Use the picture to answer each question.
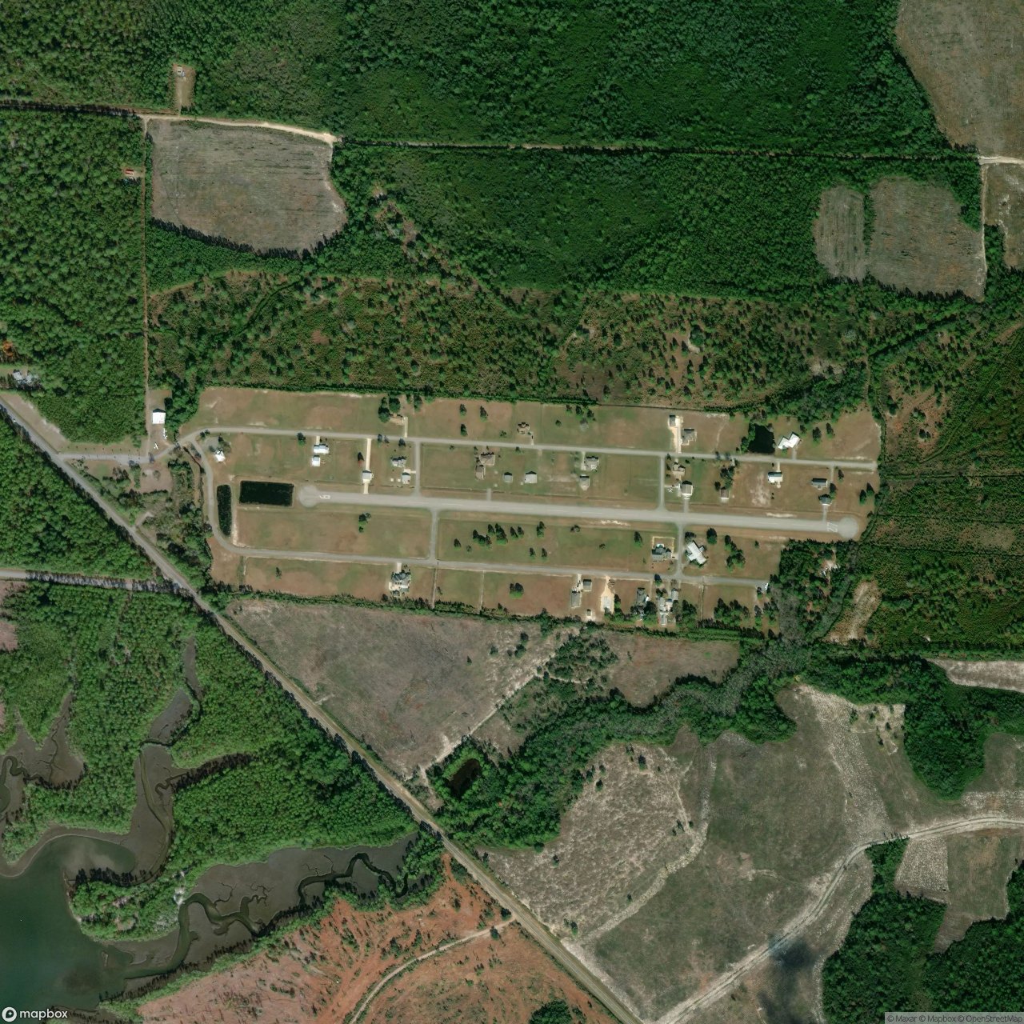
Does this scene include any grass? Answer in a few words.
Yes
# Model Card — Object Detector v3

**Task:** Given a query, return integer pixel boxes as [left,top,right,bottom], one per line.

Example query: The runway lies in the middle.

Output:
[300,486,860,537]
